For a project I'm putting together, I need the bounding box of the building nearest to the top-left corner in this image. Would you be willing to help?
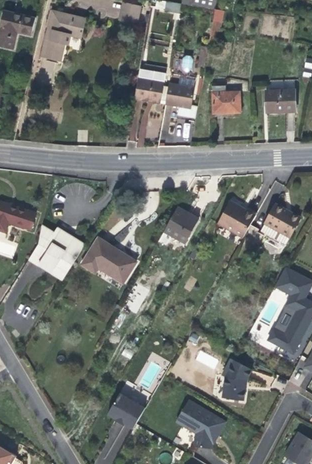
[0,11,38,53]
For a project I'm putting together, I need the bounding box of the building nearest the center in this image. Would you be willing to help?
[164,206,200,246]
